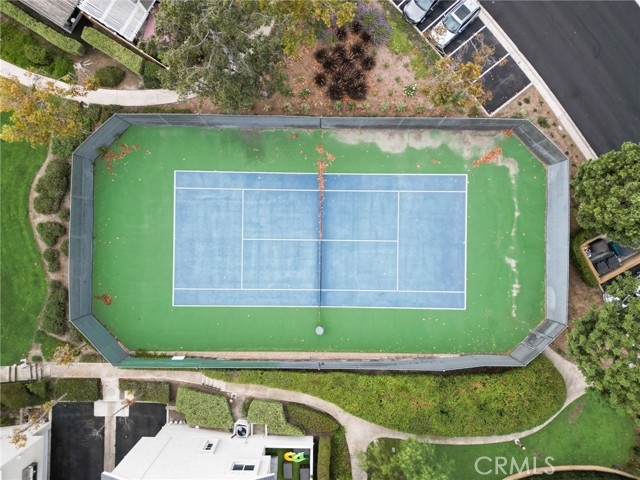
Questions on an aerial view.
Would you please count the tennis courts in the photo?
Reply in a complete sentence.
The picture shows just 1 tennis court.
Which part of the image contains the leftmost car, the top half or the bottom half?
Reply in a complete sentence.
Seen from above, the leftmost car lies in the top half of the view.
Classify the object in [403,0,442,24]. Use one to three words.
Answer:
car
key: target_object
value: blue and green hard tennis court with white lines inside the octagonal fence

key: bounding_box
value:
[92,125,548,360]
